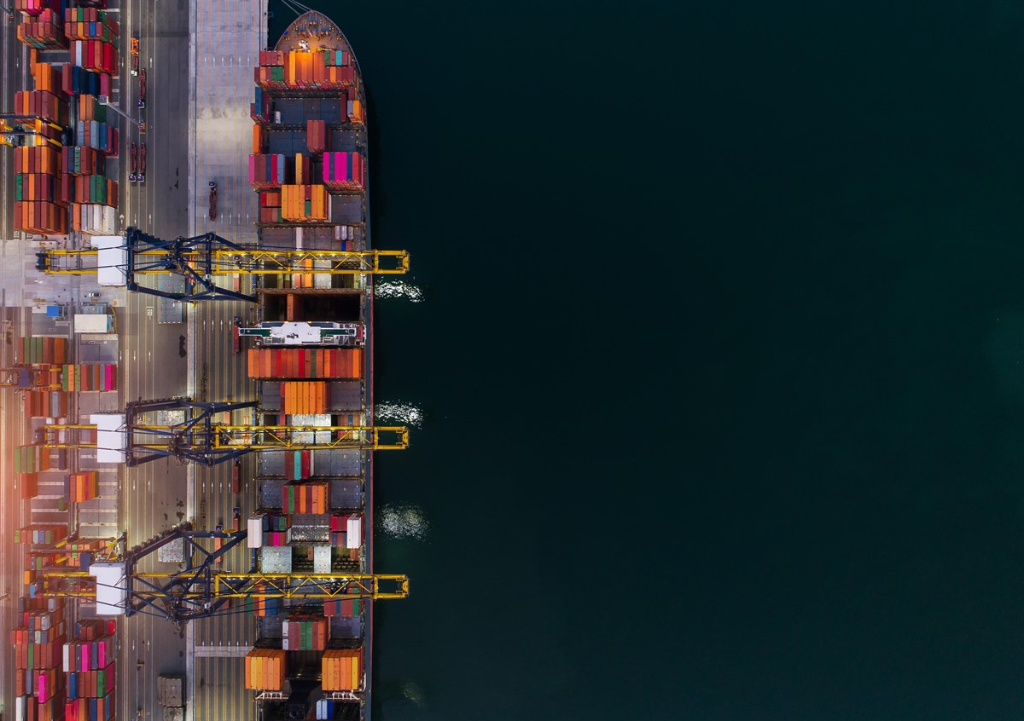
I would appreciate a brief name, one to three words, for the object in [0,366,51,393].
container crane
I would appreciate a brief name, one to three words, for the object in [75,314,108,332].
shed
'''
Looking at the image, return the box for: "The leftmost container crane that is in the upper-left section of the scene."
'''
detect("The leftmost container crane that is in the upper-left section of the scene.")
[0,114,44,150]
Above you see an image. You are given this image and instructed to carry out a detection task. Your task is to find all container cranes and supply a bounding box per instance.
[36,221,410,312]
[0,366,51,393]
[36,516,410,626]
[0,114,44,150]
[41,537,120,570]
[36,391,410,468]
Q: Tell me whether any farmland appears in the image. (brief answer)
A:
No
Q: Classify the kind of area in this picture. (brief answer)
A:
port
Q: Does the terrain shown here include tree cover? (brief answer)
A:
No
